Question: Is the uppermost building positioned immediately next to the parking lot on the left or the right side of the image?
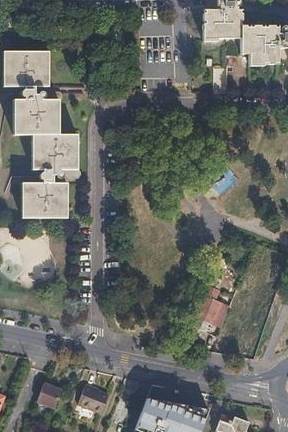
right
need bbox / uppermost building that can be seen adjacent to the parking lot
[202,0,244,42]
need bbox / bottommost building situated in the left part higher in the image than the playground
[22,170,70,218]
